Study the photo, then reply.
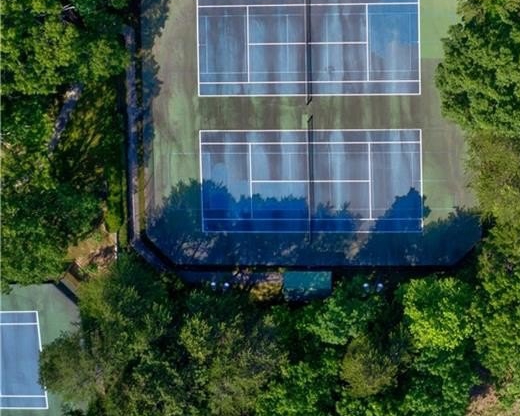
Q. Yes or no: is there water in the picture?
No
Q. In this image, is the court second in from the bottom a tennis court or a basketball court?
tennis court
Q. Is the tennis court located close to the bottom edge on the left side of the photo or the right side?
left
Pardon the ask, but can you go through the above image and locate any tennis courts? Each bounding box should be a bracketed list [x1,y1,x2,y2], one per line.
[200,129,423,233]
[197,0,421,97]
[0,311,47,409]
